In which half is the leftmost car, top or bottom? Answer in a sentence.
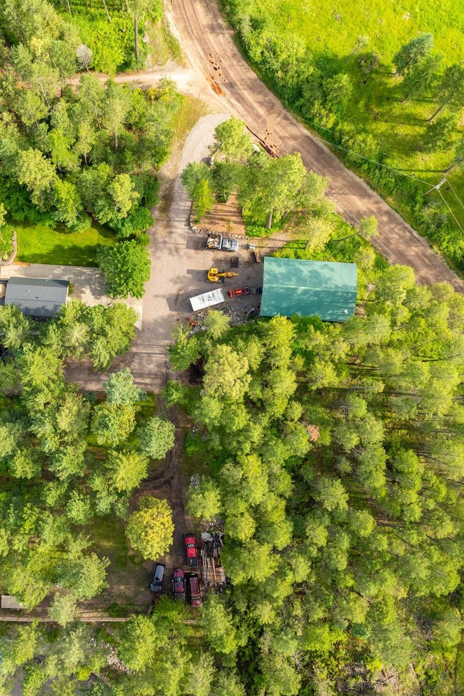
The bottom half of the photo is where the leftmost car is.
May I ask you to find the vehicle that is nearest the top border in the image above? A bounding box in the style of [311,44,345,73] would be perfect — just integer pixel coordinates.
[206,234,239,252]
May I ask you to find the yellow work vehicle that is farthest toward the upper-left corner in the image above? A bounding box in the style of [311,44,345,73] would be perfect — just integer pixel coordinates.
[206,268,240,283]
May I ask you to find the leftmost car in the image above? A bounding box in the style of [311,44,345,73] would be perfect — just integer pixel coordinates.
[147,562,167,593]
